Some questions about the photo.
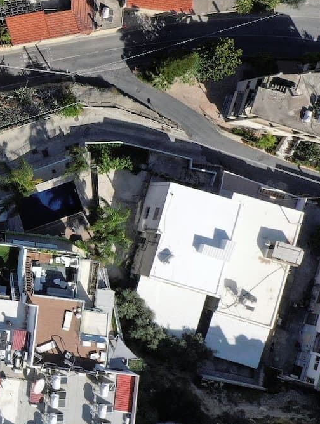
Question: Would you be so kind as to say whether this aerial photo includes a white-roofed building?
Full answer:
Yes, I can see a white-roofed building in this picture.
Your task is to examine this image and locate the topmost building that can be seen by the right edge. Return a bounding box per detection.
[212,61,320,161]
